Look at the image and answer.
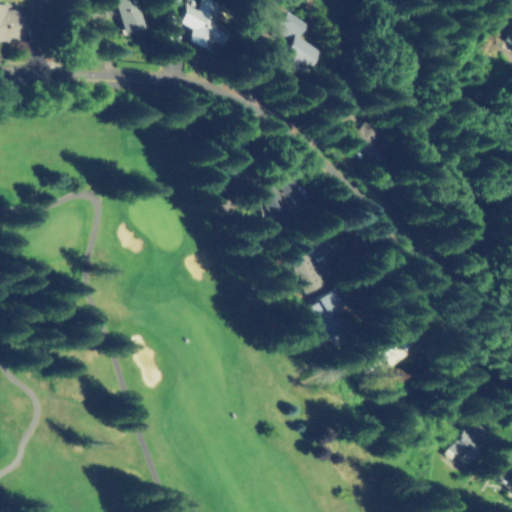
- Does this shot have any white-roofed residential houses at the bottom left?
No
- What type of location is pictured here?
golf course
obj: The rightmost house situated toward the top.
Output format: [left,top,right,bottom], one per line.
[356,118,379,143]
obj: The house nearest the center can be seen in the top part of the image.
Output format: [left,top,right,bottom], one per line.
[262,183,293,212]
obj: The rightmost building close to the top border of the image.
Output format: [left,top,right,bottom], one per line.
[281,10,320,67]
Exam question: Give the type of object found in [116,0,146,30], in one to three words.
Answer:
house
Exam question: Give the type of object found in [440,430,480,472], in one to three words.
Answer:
house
